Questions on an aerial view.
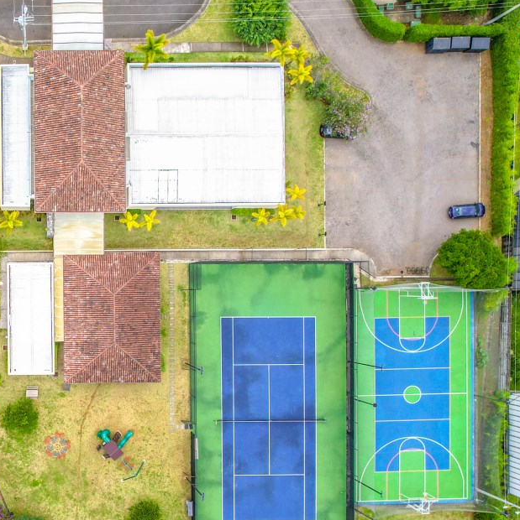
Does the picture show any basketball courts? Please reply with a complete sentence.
Yes, a basketball court is visible in the scene.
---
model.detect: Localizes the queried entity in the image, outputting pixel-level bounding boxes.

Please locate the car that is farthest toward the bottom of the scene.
[450,200,489,220]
